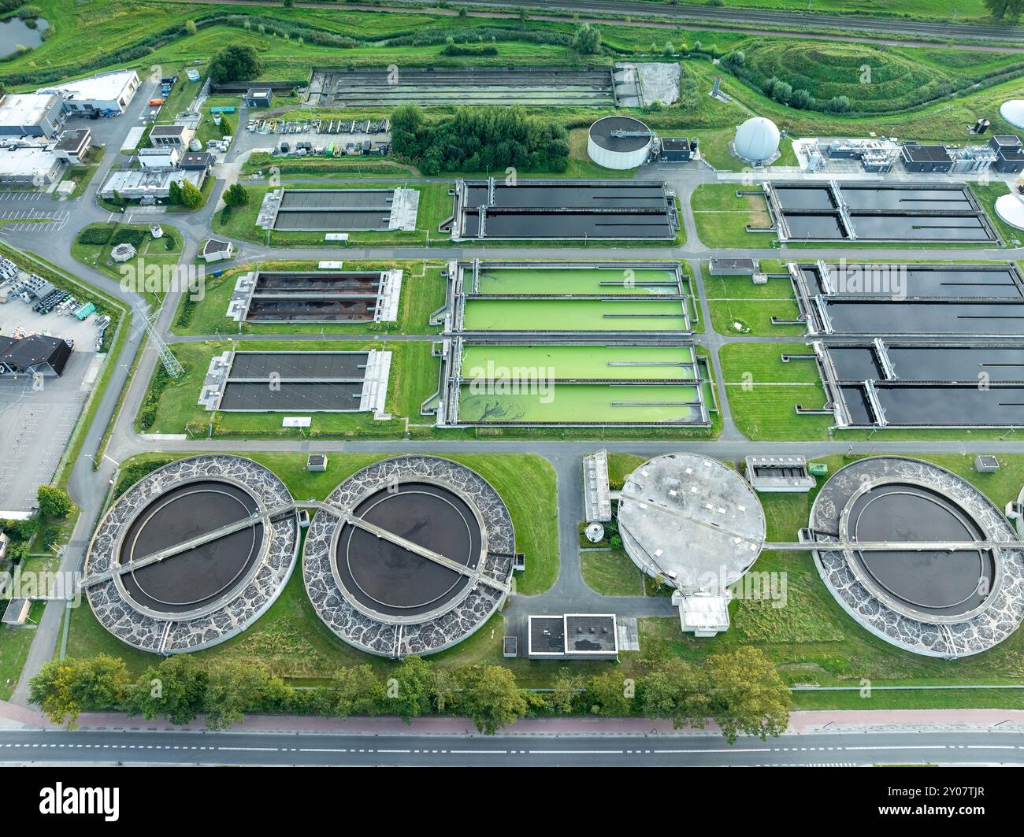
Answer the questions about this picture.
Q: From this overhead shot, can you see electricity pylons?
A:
Yes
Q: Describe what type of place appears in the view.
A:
industrial area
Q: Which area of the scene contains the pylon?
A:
left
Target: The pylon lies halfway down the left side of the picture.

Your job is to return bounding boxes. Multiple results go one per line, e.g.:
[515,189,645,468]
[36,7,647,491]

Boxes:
[107,291,184,381]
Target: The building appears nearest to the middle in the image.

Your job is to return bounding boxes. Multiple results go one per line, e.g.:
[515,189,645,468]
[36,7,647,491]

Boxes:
[582,448,611,526]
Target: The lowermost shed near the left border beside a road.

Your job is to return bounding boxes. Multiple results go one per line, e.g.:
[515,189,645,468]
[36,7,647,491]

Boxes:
[1,598,32,625]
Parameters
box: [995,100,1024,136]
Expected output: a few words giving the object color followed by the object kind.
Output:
white storage tank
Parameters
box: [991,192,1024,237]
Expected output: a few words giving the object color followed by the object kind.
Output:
white storage tank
